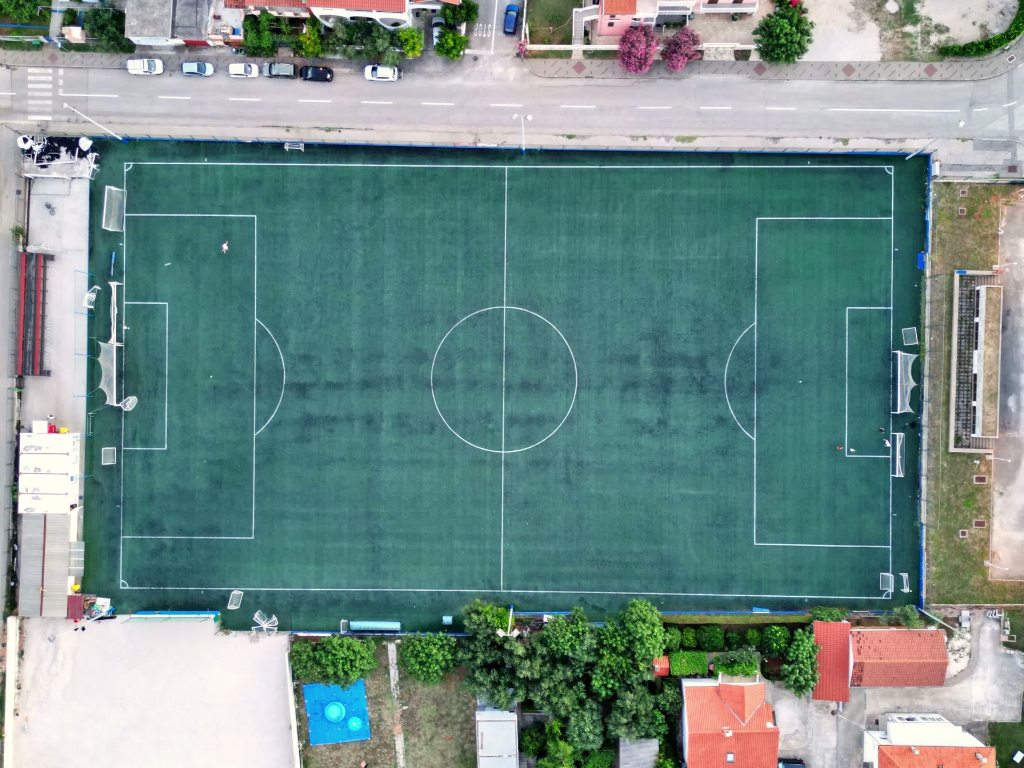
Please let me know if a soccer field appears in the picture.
Yes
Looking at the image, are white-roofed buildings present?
Yes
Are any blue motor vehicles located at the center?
No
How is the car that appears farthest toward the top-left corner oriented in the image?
from side to side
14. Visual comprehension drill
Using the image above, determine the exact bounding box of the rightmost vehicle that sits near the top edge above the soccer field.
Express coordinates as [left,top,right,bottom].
[502,4,519,38]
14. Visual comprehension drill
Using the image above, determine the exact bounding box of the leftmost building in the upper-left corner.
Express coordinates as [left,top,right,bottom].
[125,0,178,44]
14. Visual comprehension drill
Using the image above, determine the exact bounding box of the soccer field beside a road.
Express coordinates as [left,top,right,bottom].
[84,140,929,634]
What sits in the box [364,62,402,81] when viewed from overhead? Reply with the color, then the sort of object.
white car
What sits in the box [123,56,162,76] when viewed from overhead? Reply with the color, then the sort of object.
white car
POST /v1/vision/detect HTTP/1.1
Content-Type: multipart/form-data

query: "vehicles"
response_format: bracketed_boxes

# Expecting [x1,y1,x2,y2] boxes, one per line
[262,60,297,79]
[228,60,259,78]
[299,62,332,81]
[123,56,162,76]
[180,58,214,77]
[778,754,808,768]
[430,15,447,50]
[364,62,402,81]
[502,4,519,38]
